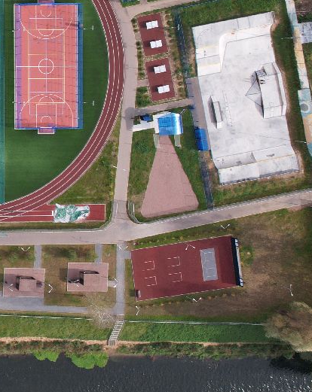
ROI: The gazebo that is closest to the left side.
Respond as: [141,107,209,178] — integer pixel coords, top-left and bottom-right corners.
[14,274,37,292]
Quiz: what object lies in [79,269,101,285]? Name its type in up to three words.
gazebo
